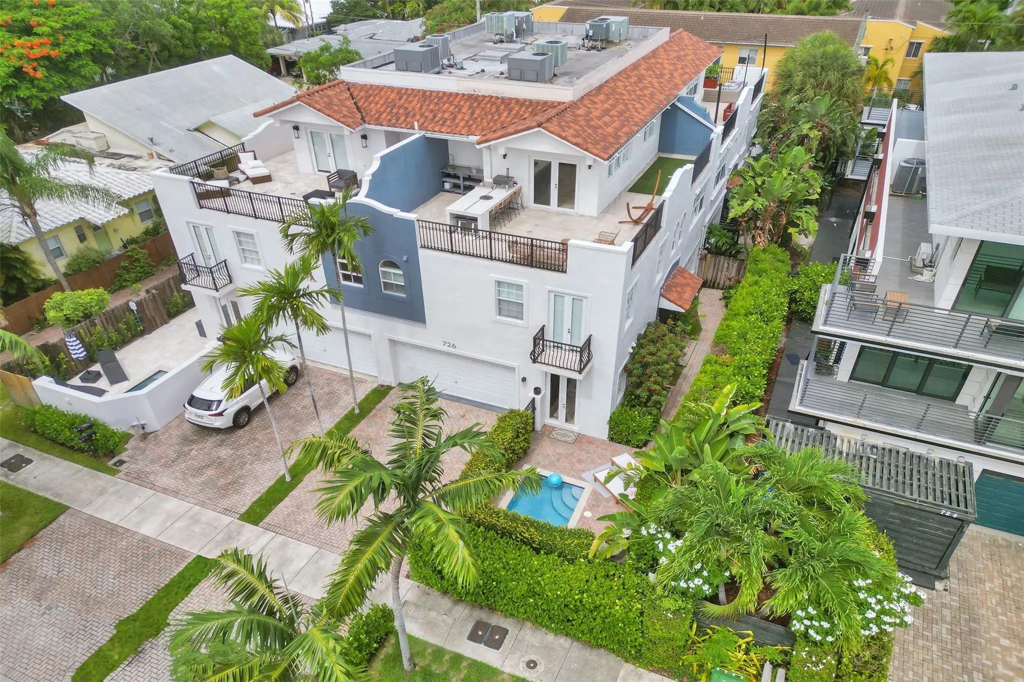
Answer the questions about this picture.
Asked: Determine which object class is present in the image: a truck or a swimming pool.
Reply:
swimming pool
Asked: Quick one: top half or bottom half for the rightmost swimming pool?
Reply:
bottom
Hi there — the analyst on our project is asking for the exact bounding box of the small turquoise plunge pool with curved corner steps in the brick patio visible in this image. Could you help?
[496,464,589,539]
